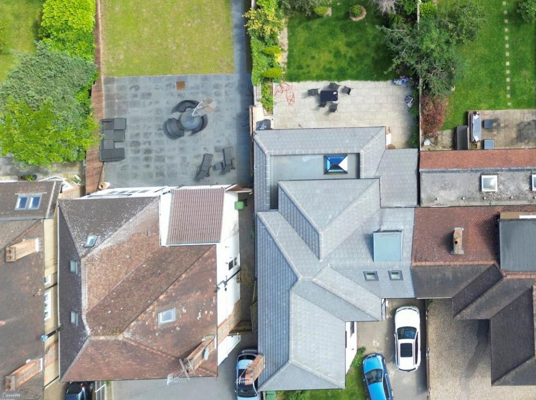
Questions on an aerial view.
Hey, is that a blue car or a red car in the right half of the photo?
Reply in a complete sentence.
The one visible in the right half of the photo is a blue car.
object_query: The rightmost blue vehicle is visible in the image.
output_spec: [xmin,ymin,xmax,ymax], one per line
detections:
[361,355,392,400]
